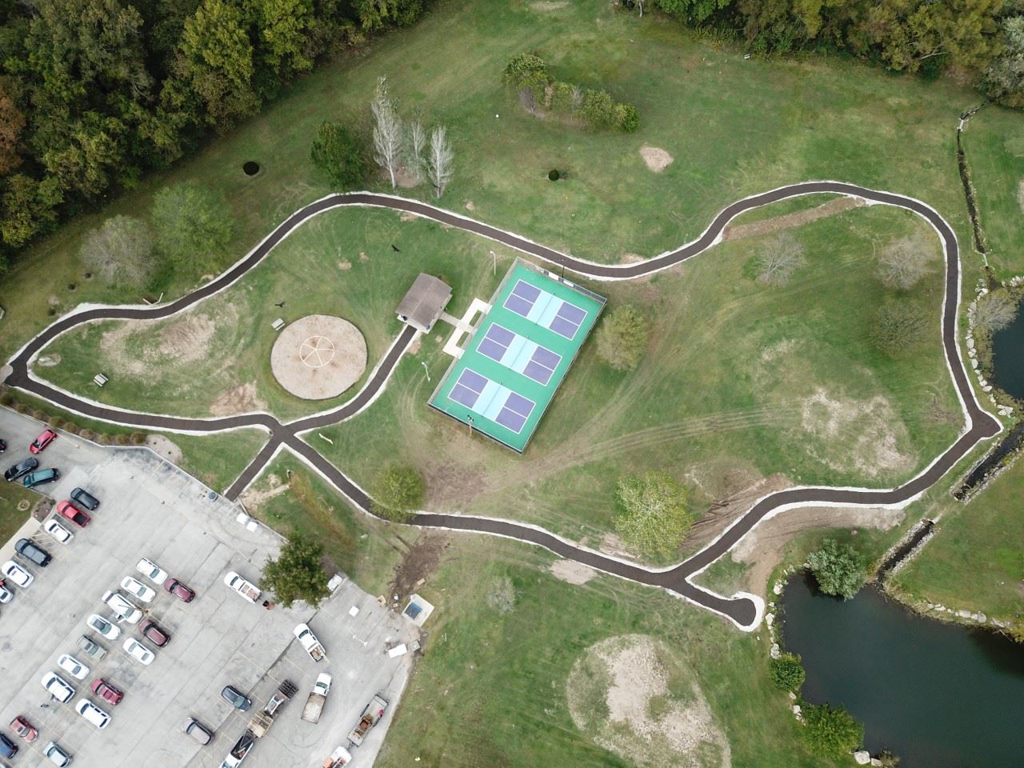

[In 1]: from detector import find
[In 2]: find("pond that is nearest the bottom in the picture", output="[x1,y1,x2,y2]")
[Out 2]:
[780,573,1024,768]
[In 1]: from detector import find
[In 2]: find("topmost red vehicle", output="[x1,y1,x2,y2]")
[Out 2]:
[30,427,58,457]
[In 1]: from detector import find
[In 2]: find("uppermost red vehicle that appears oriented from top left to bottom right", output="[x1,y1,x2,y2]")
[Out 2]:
[56,501,90,529]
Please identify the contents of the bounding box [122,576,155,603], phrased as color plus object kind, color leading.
white car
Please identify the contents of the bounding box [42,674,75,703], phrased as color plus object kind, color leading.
white car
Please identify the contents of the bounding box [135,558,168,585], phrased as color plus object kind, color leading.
white vehicle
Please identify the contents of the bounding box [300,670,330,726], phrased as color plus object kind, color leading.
white truck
